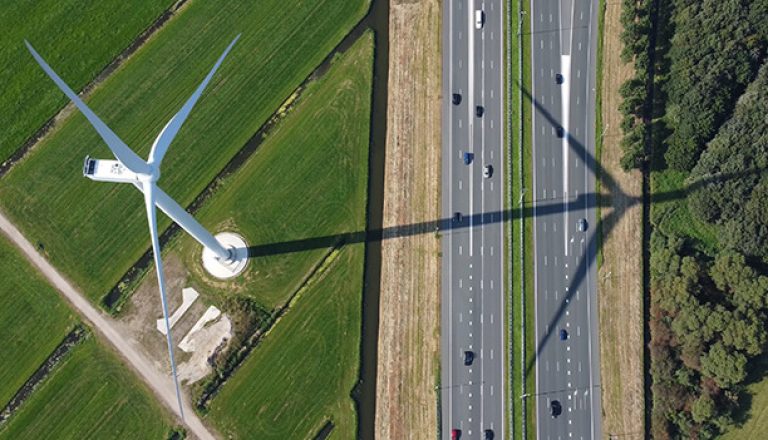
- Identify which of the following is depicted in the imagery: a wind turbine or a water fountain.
wind turbine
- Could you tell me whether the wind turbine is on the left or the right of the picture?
left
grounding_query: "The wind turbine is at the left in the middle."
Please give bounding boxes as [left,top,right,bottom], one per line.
[25,35,239,419]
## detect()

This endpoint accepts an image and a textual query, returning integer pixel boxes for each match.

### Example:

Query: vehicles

[560,329,566,340]
[452,94,458,105]
[476,106,482,118]
[476,10,482,28]
[483,166,489,178]
[451,430,457,440]
[464,352,470,365]
[556,127,562,138]
[484,430,490,440]
[464,152,470,165]
[556,74,561,84]
[551,400,558,416]
[578,219,584,232]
